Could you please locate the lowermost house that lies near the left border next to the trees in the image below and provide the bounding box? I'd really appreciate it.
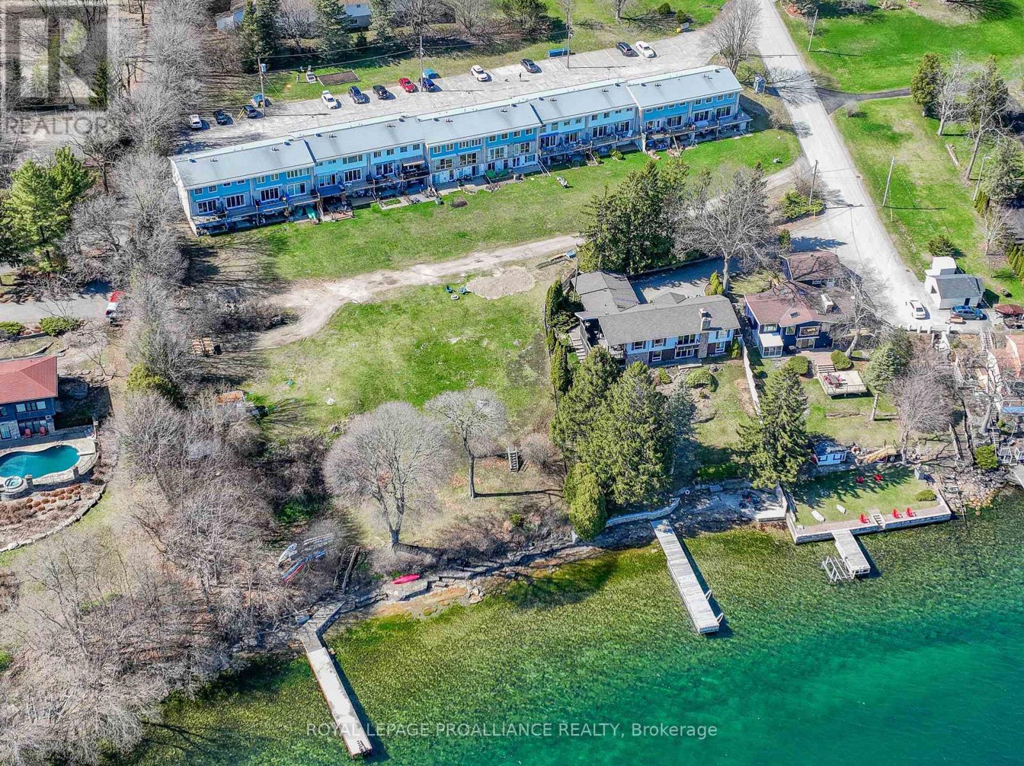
[0,355,59,436]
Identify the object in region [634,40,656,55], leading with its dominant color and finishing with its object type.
white car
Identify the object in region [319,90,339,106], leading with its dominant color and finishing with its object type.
white car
